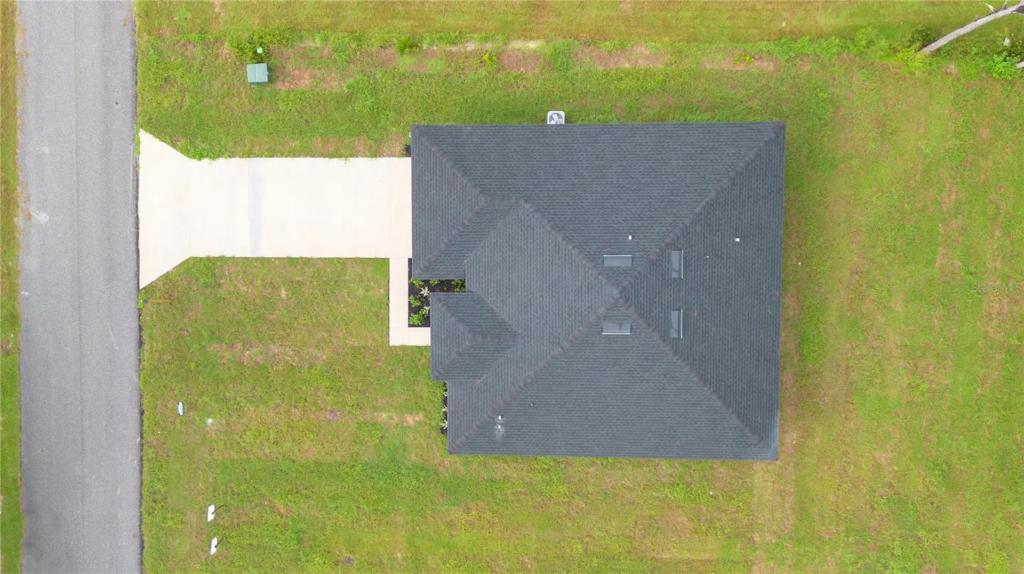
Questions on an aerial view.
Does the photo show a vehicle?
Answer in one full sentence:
No, I can see no vehicle in this picture.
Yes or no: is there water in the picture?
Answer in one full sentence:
No, no water is visible.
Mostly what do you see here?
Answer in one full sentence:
The scene is dominated by grass.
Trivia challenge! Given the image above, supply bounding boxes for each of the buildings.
[409,119,786,462]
